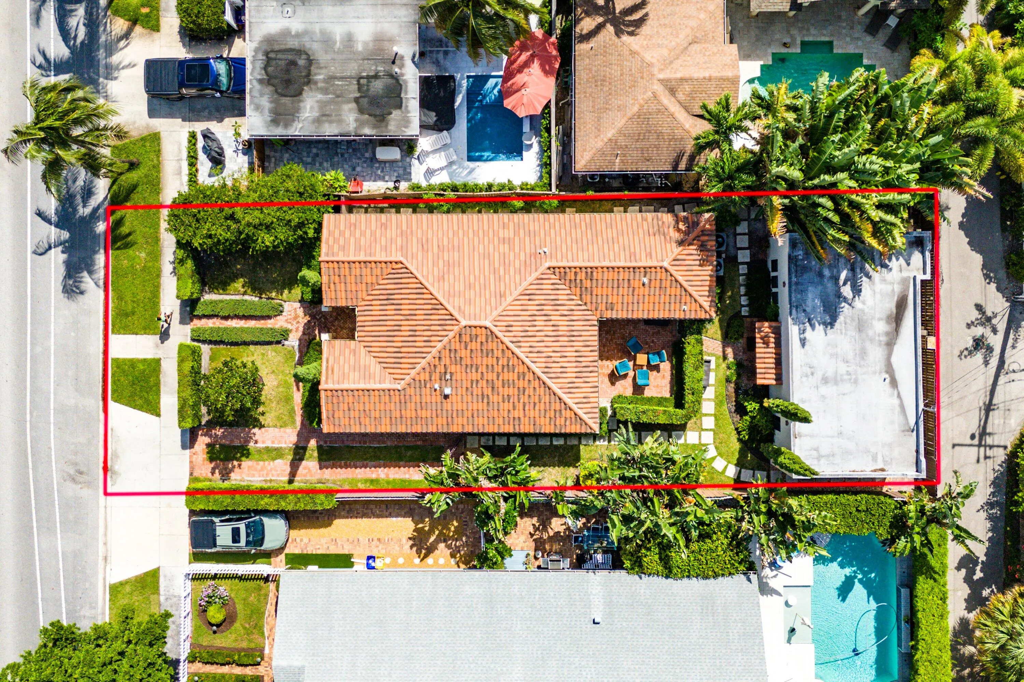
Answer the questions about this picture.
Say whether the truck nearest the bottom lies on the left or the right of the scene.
left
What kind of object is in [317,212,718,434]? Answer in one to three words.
house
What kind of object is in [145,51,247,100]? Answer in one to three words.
truck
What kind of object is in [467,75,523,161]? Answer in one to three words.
swimming pool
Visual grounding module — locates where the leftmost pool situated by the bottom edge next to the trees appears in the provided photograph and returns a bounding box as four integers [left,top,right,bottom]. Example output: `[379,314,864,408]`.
[783,516,898,682]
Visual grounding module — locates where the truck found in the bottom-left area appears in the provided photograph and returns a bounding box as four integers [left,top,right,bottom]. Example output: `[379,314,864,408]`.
[191,510,292,558]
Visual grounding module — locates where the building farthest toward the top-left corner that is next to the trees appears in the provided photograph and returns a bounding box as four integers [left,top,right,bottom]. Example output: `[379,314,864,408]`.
[247,0,420,139]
